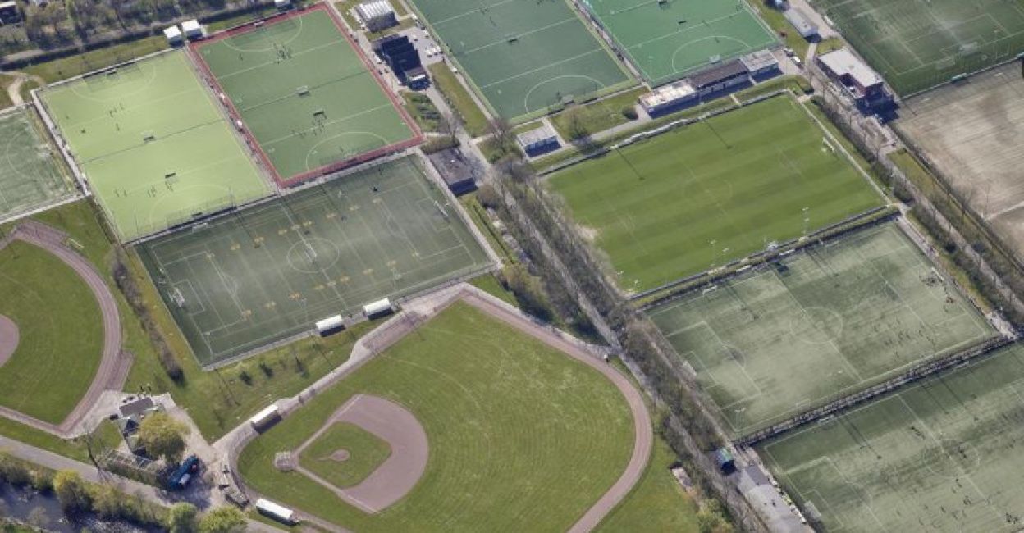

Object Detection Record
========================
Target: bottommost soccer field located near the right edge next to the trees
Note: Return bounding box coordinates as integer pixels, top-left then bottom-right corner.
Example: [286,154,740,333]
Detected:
[747,342,1024,533]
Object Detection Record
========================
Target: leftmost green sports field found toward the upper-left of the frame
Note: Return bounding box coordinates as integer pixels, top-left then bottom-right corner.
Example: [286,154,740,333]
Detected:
[39,48,274,243]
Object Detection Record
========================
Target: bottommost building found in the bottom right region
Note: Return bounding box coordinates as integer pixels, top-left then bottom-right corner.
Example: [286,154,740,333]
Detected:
[737,464,808,533]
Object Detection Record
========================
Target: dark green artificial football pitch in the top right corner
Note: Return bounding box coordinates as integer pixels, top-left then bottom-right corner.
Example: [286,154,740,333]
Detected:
[807,0,1024,98]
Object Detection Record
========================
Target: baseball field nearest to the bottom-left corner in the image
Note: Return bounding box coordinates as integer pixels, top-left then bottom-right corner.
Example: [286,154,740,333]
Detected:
[0,219,134,438]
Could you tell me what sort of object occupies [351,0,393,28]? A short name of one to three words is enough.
building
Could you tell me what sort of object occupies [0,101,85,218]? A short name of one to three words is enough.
soccer field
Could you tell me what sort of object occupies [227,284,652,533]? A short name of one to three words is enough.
baseball field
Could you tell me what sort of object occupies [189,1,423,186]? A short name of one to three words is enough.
sports field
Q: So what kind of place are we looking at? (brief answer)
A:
sports ground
